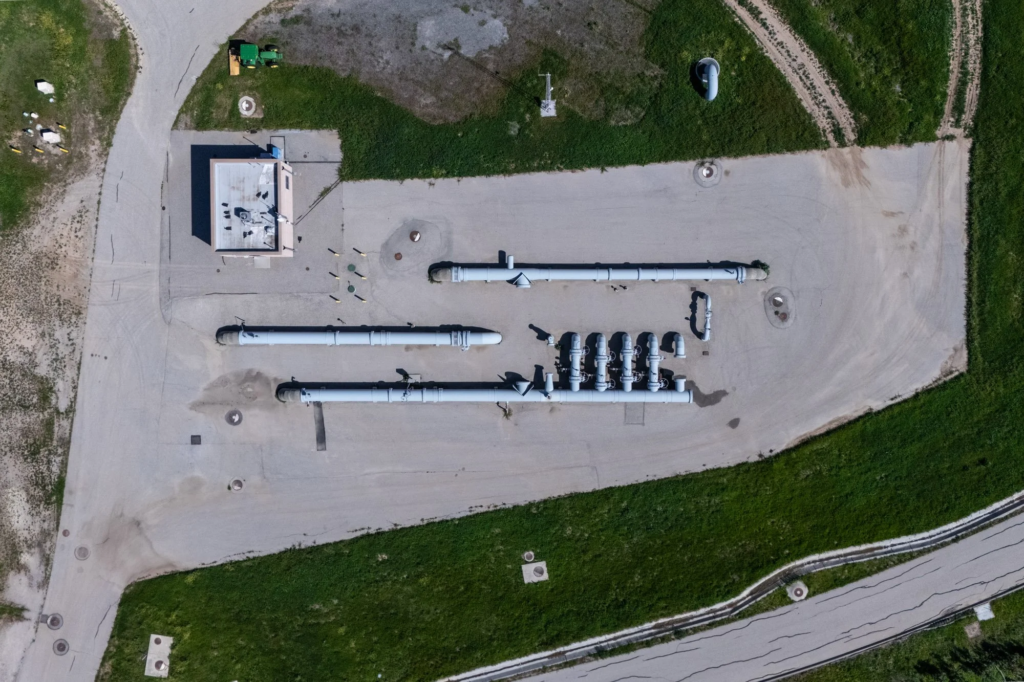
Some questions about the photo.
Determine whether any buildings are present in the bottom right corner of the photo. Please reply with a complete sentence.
No, no building appears in the bottom right corner of the photo.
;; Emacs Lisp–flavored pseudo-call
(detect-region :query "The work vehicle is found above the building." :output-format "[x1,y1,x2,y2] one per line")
[240,43,283,69]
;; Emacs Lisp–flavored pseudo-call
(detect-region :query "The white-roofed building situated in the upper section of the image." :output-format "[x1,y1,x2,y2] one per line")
[209,159,293,258]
